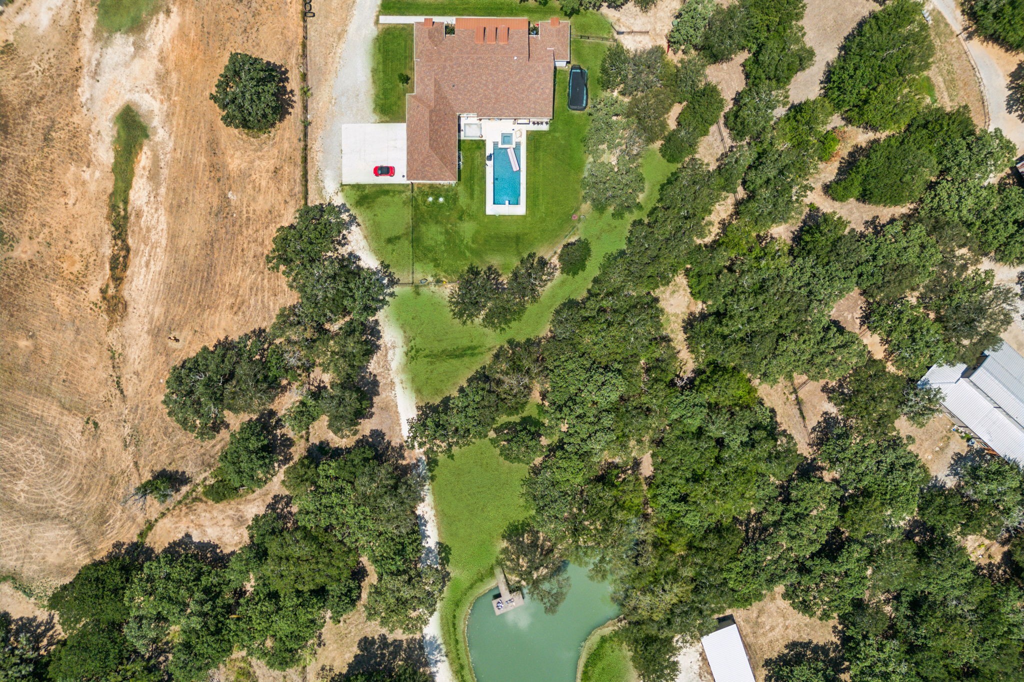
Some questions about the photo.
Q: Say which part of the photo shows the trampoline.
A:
top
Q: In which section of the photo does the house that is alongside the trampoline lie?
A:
top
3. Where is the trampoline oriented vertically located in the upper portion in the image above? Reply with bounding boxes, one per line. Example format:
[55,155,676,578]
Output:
[569,65,589,111]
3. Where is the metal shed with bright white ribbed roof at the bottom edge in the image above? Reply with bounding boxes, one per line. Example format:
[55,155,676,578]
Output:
[696,616,756,682]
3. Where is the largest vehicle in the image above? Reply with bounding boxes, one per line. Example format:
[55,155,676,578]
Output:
[374,165,395,177]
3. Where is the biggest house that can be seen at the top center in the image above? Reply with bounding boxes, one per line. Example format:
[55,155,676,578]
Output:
[406,16,571,183]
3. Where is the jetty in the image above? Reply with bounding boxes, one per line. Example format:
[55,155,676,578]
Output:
[492,565,524,616]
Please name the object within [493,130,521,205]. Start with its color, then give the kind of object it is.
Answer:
blue swimming pool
